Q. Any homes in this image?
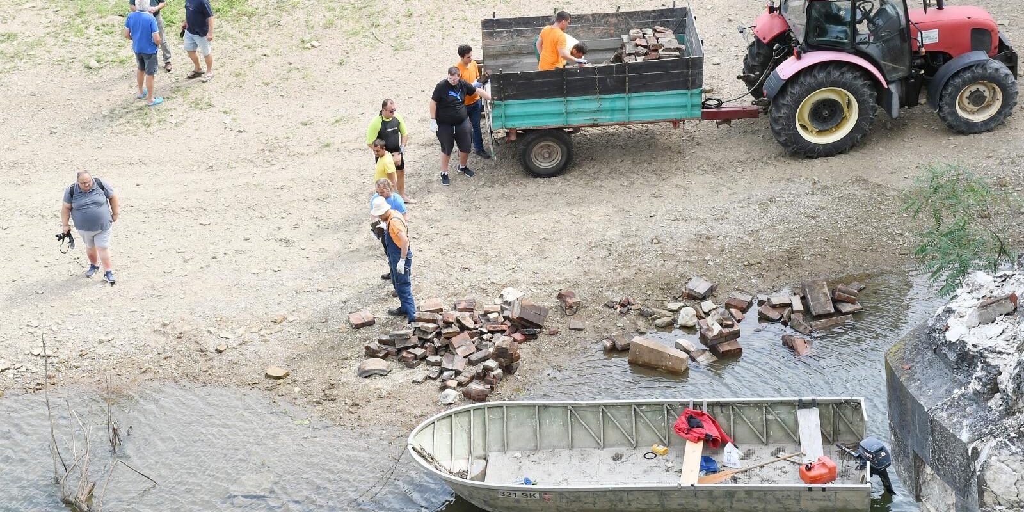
No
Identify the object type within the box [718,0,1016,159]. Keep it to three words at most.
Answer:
work vehicle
